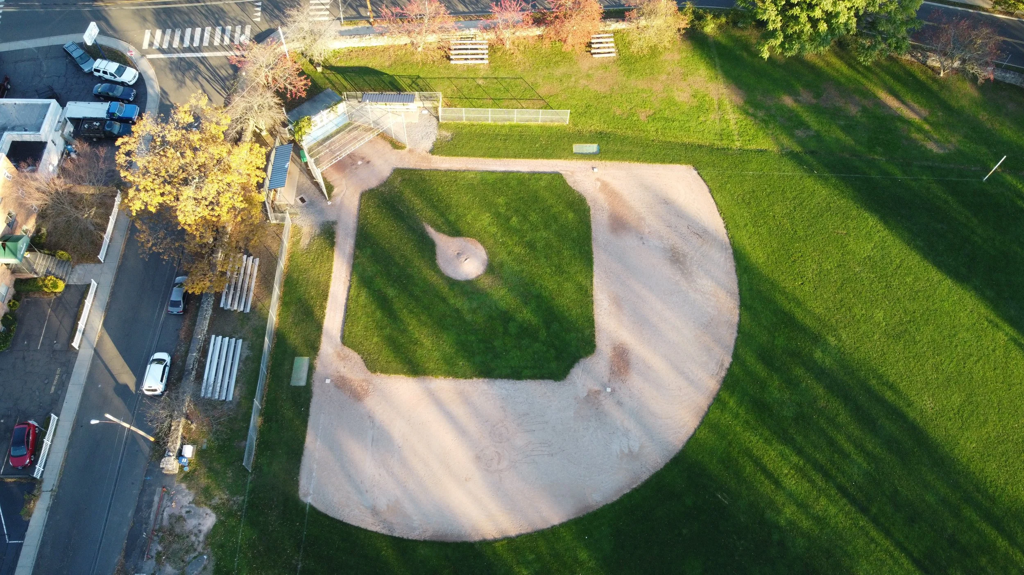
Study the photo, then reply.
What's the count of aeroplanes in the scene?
none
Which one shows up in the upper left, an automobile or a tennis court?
automobile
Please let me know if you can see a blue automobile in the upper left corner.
Yes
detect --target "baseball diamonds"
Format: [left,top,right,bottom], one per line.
[235,124,983,575]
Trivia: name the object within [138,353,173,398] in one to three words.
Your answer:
car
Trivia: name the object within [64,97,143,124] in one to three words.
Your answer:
truck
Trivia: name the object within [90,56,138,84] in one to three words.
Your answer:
car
